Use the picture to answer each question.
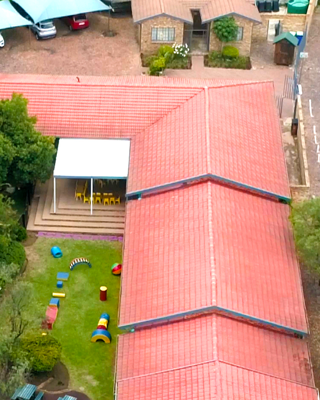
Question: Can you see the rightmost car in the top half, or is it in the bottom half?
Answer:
top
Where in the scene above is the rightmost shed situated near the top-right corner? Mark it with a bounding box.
[273,26,301,68]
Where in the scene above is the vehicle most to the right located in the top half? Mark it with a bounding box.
[65,11,92,31]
